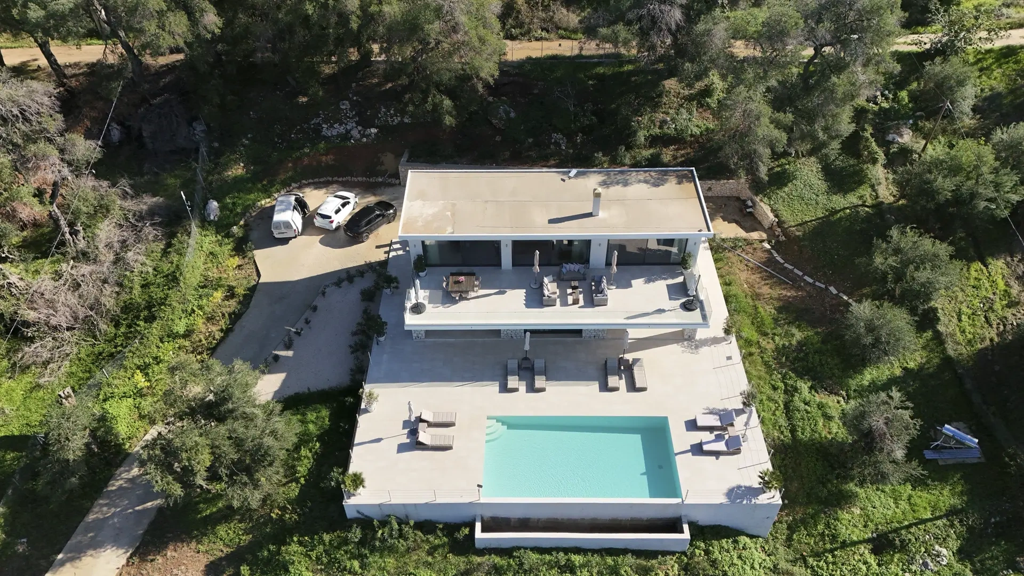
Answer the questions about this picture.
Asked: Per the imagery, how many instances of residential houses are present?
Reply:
1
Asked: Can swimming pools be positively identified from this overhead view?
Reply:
Yes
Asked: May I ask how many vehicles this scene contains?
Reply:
three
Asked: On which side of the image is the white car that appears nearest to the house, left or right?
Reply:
left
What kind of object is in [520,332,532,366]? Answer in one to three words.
umbrella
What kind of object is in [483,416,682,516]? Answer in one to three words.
swimming pool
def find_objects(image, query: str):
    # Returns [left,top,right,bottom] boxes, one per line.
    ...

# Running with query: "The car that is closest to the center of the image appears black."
[339,199,398,242]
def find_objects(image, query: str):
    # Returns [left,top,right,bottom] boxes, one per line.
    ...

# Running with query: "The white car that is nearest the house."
[309,191,359,231]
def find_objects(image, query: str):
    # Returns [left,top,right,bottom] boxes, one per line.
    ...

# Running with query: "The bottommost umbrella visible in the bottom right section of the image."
[738,407,757,443]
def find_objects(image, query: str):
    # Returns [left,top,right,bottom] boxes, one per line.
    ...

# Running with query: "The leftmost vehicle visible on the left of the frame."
[269,191,301,234]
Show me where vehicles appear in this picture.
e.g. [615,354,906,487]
[309,191,359,231]
[339,199,398,242]
[269,191,301,234]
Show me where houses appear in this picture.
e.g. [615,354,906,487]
[398,167,714,342]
